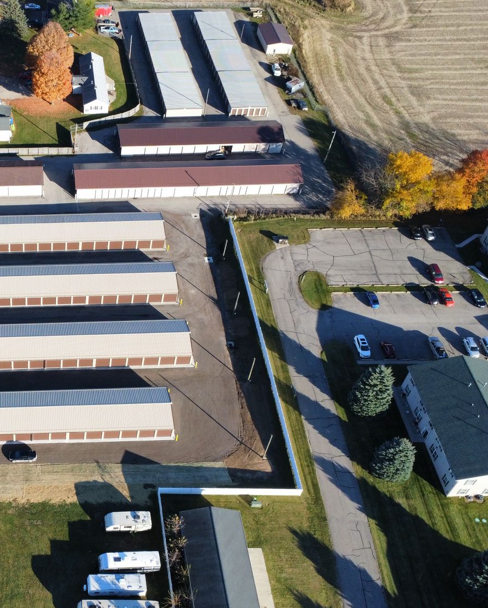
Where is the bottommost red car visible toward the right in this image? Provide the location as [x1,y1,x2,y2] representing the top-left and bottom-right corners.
[437,289,455,306]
